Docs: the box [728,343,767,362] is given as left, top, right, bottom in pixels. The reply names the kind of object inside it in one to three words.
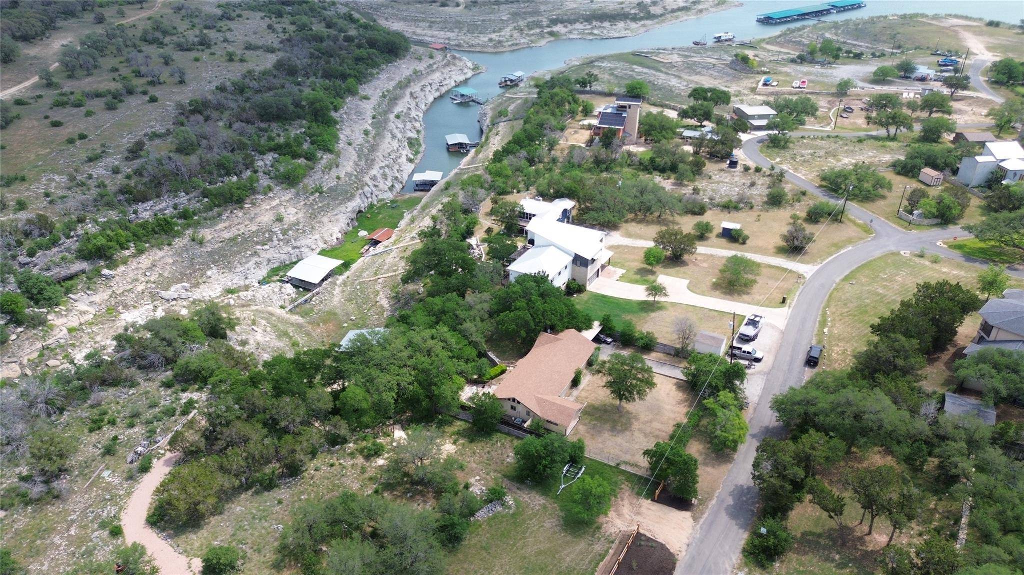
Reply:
vehicle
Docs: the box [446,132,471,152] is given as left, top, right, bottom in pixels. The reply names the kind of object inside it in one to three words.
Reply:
pier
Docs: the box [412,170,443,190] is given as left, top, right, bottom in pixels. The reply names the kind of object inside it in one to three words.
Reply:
pier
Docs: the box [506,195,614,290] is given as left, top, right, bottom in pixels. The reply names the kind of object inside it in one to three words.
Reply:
house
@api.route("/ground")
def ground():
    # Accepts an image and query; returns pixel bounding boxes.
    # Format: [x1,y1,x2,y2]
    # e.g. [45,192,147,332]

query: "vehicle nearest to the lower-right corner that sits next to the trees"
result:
[807,345,824,364]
